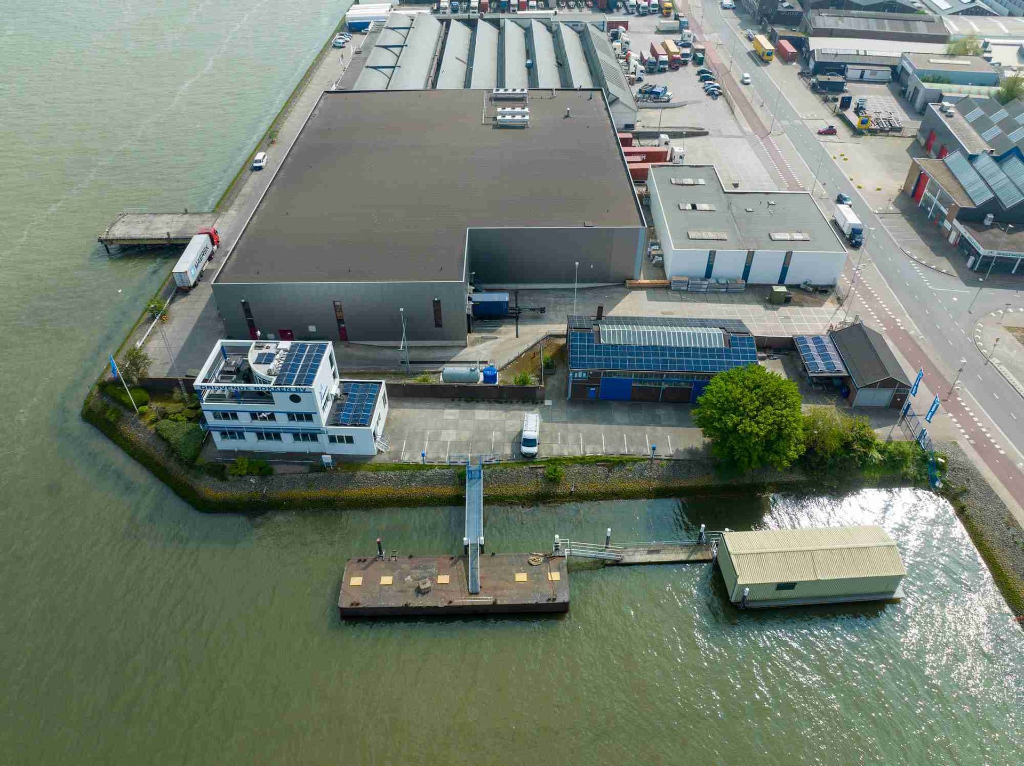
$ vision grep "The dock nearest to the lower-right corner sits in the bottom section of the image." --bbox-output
[622,537,719,565]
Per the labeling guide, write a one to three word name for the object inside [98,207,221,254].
pier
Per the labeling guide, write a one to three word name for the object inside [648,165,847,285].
building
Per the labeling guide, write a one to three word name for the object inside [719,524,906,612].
building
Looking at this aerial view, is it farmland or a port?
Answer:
port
